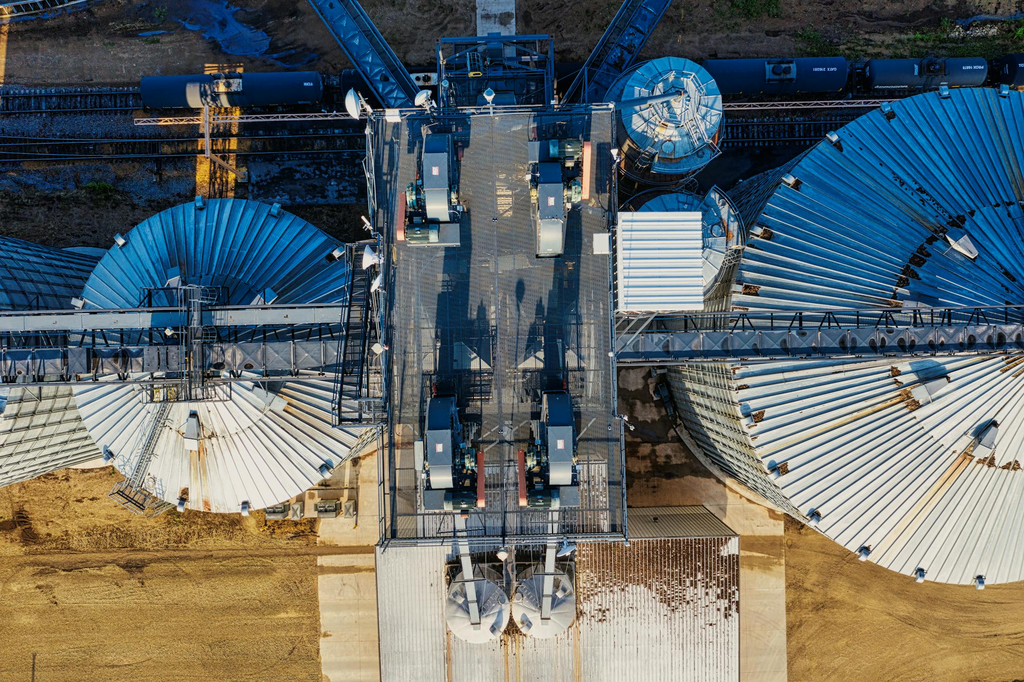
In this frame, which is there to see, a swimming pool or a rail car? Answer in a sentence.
Looking from above, you can make out a rail car.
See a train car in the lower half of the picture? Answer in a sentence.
No, no train car is visible in the lower half of the picture.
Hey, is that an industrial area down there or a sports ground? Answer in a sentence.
What you see here is an industrial area.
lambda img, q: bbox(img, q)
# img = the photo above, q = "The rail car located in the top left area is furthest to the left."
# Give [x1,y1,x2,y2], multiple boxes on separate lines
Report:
[137,69,334,113]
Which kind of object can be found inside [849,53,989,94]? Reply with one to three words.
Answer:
rail car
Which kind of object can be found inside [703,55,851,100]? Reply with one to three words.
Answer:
rail car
